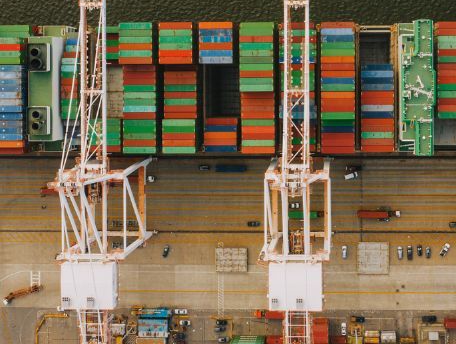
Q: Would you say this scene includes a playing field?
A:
No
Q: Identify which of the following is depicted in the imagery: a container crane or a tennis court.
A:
container crane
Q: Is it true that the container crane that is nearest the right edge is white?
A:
Yes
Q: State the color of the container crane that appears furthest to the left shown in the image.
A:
white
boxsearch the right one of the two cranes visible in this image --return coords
[259,0,339,344]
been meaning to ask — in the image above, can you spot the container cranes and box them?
[259,0,339,344]
[49,0,162,344]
